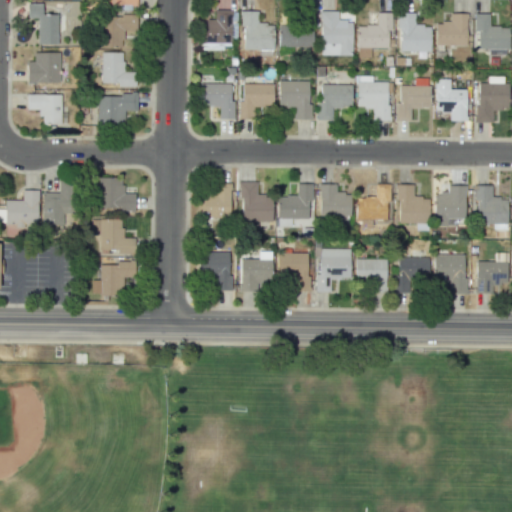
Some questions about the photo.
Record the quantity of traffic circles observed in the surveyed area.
none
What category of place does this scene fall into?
residential area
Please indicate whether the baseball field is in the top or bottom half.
bottom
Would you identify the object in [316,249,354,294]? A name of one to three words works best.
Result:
house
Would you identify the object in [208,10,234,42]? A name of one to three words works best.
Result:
house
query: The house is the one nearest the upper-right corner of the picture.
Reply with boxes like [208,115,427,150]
[475,14,512,51]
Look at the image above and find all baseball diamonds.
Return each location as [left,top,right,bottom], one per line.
[0,385,48,480]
